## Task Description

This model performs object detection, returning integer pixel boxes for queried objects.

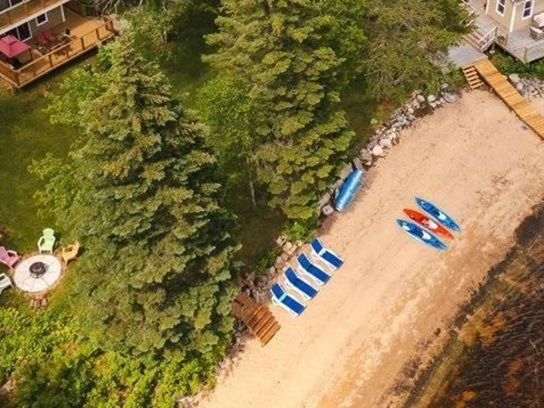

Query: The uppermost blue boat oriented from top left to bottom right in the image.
[415,197,461,232]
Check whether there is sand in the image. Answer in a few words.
Yes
